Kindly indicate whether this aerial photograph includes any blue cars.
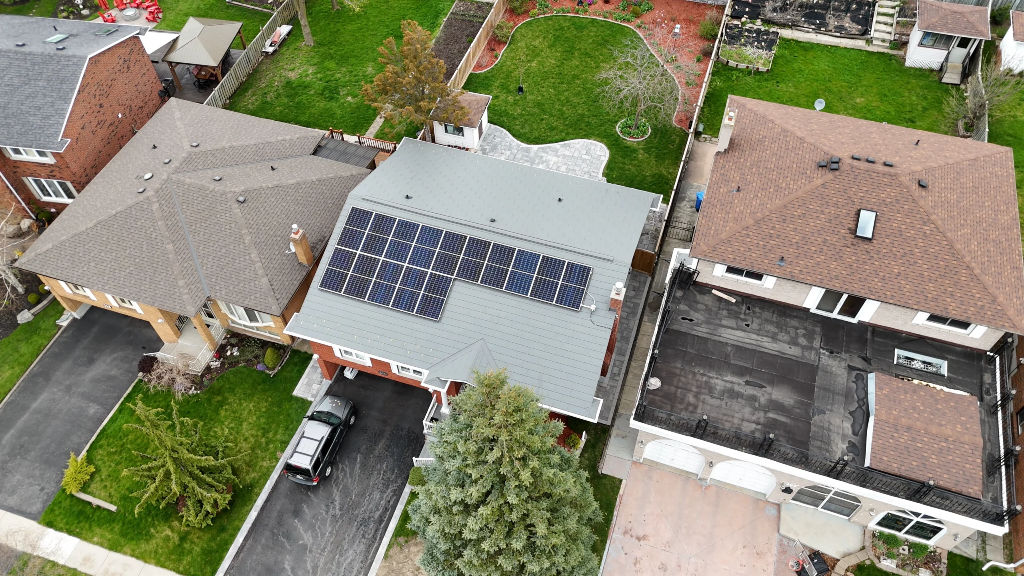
No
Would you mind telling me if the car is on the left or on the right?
left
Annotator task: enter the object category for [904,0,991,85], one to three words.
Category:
shed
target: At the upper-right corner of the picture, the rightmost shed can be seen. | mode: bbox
[995,8,1024,76]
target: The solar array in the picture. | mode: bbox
[317,206,611,330]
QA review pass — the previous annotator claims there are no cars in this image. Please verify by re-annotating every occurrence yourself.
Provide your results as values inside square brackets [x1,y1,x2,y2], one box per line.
[282,386,360,485]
